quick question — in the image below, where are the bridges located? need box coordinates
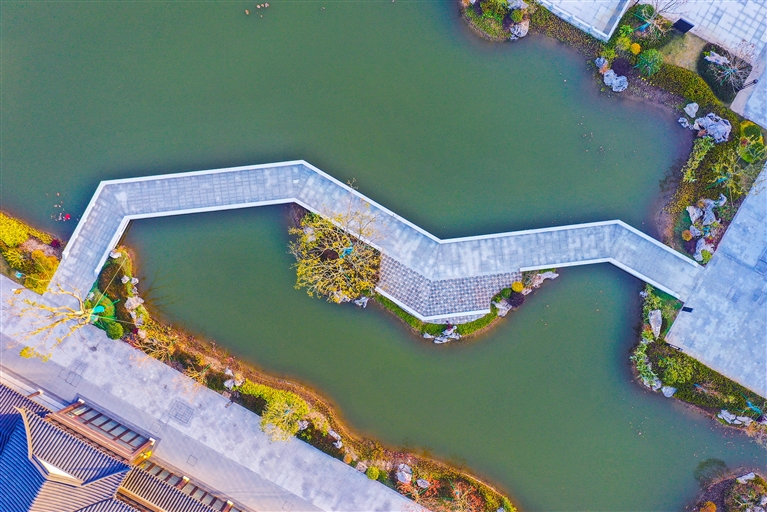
[48,160,705,324]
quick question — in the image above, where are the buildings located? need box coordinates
[0,366,264,512]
